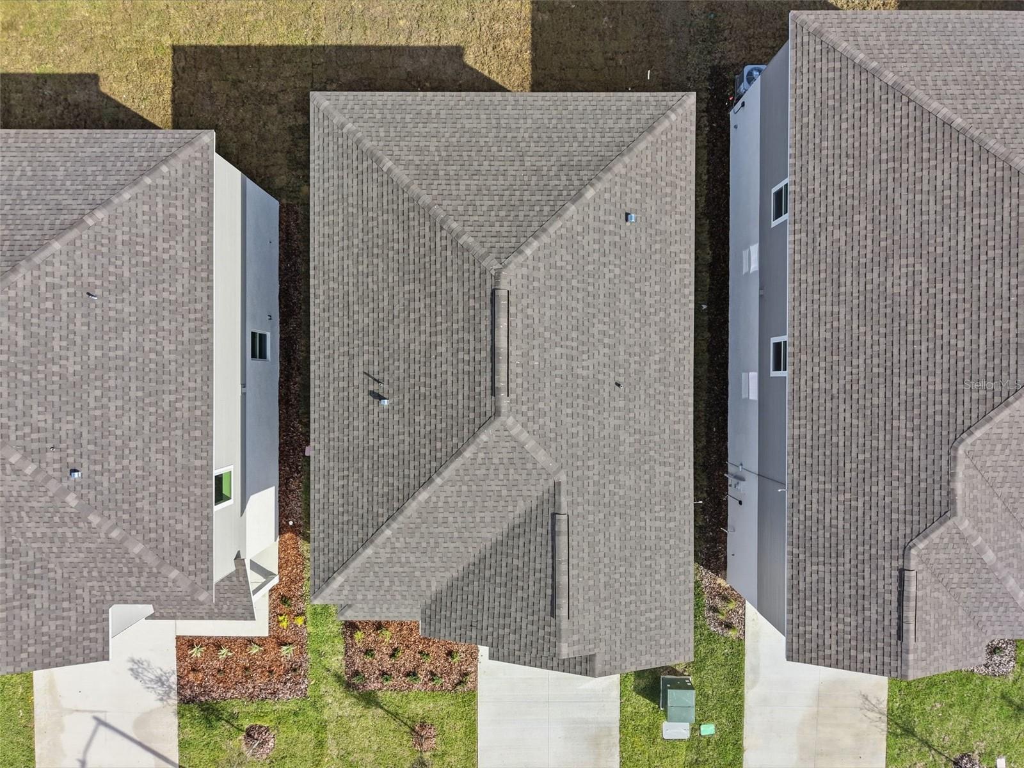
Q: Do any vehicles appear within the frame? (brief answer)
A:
No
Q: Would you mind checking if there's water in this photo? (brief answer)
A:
No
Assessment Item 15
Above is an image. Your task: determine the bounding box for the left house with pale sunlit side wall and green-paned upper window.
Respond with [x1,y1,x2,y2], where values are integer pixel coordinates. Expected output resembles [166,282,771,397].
[0,128,279,674]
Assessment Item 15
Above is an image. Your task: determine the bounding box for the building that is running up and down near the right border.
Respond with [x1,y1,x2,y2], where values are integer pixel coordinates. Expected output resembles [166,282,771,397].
[724,8,1024,678]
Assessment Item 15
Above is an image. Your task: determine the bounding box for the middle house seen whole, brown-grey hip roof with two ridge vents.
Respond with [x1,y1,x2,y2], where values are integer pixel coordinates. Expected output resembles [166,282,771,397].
[309,90,704,680]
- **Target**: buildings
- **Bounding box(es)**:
[309,90,704,680]
[724,8,1024,678]
[0,128,279,674]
